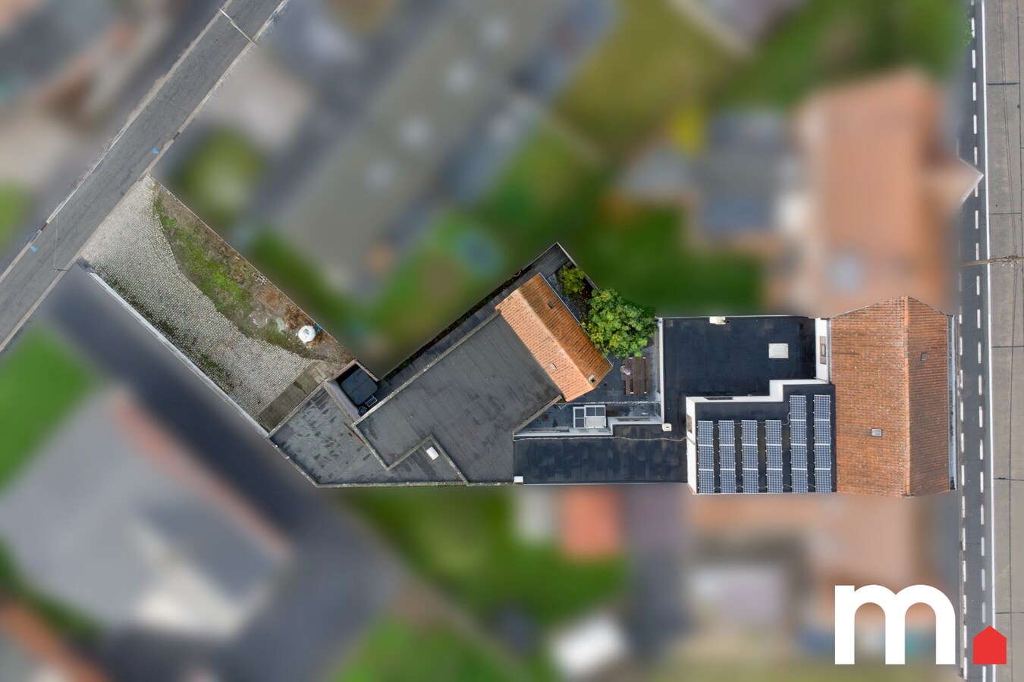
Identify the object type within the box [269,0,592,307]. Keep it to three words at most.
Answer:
building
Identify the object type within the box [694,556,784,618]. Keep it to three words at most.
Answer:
shed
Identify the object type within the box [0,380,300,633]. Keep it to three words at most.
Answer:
house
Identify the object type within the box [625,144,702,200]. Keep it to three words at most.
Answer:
shed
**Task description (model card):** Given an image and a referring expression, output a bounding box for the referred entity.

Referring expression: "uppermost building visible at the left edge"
[0,0,195,122]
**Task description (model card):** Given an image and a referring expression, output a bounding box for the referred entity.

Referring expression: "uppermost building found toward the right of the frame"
[710,0,794,54]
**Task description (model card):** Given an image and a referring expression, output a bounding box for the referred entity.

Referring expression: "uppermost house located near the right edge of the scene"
[794,84,984,317]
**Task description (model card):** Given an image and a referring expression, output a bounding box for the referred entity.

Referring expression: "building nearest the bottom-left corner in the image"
[0,573,131,682]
